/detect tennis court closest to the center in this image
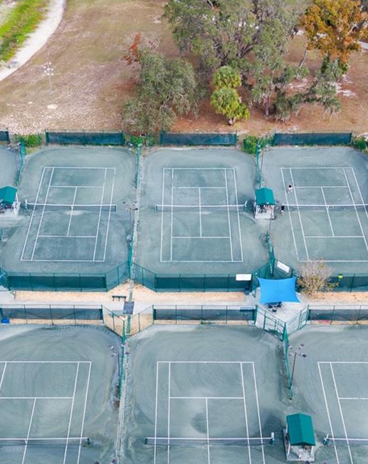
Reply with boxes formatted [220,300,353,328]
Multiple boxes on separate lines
[136,146,270,289]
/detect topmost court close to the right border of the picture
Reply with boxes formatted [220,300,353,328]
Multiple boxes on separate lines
[255,147,368,286]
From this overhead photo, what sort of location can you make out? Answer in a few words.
sports ground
